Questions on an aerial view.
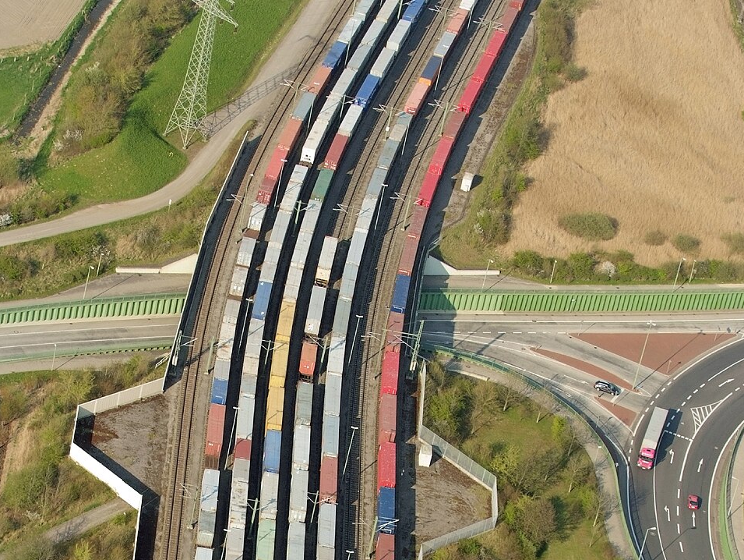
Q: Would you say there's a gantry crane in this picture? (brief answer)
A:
No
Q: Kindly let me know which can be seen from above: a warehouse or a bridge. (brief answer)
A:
bridge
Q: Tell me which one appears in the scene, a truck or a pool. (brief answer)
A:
truck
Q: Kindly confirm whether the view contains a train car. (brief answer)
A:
Yes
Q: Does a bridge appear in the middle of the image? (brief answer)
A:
Yes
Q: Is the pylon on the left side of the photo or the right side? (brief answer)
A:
left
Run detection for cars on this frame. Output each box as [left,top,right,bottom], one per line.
[688,492,700,508]
[594,380,621,395]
